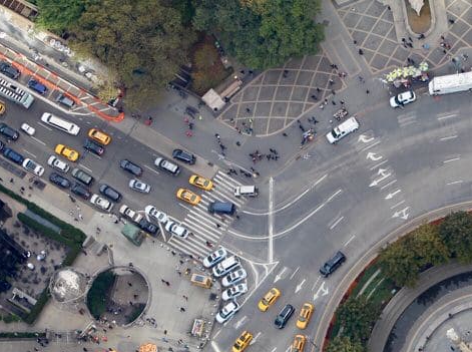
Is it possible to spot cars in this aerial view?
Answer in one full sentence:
Yes, this view includes a car.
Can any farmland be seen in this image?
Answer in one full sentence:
No, there's no farmland in this view.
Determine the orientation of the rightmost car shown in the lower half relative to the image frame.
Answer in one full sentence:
In this picture, the rightmost car shown in the lower half is oriented diagonally.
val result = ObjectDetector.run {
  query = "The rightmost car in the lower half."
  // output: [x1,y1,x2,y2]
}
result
[318,249,346,273]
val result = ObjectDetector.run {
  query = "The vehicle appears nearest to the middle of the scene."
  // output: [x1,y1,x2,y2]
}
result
[233,182,259,195]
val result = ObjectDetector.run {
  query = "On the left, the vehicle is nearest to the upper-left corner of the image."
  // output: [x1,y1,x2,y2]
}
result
[0,59,22,80]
